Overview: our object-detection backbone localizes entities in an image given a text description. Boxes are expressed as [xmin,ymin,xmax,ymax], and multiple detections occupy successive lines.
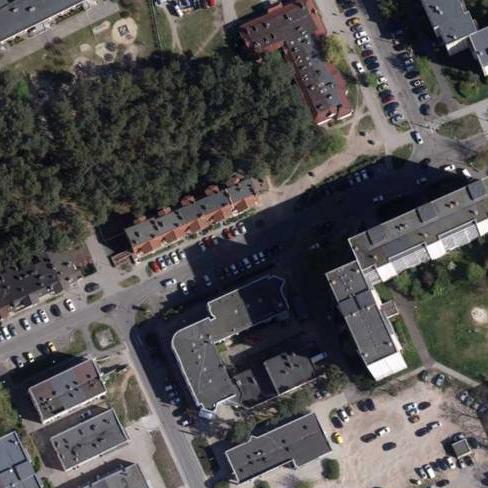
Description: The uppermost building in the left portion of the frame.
[0,0,90,45]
